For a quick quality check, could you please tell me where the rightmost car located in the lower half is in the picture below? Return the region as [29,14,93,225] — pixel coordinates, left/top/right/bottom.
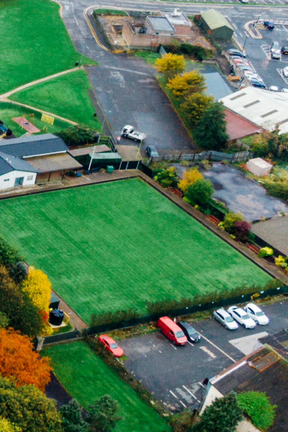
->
[243,301,270,324]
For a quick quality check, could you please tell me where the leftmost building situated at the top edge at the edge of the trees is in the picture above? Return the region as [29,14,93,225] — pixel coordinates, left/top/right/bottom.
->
[114,5,193,50]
